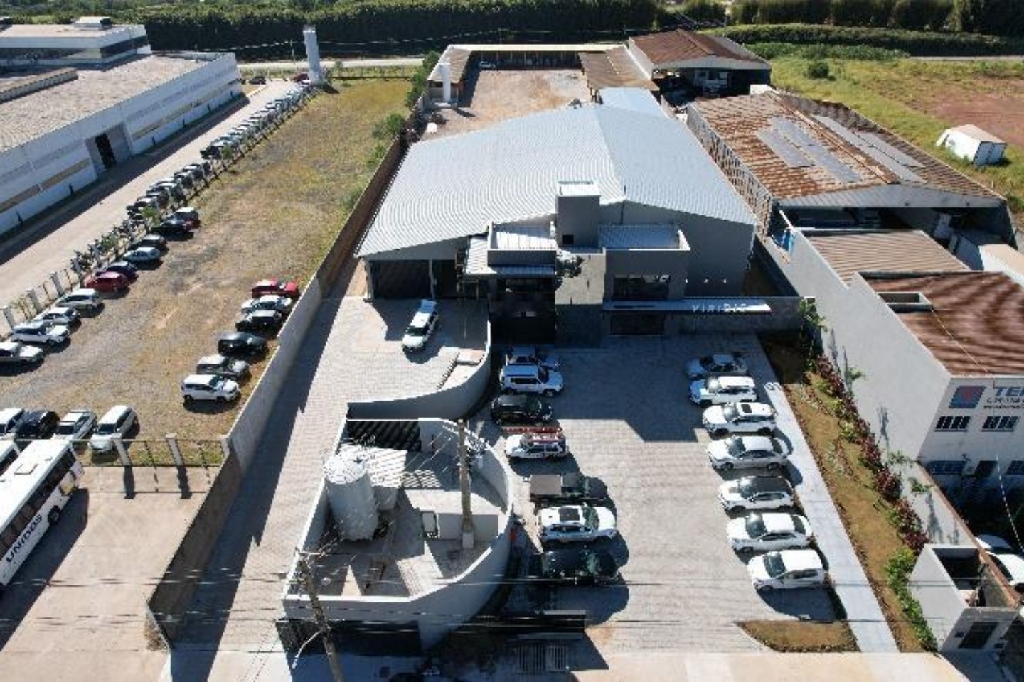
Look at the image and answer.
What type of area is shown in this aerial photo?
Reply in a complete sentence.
The picture captures an industrial area.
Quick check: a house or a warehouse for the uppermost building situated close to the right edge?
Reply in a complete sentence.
The uppermost building situated close to the right edge is a warehouse.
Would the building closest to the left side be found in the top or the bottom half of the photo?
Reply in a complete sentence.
Seen from above, the building closest to the left side lies in the top half of the view.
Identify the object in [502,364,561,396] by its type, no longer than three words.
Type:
car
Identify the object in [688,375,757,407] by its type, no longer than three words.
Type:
car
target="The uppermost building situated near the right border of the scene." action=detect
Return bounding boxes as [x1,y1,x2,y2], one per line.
[686,81,1007,246]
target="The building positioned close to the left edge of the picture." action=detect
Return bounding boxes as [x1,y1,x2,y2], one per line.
[0,14,241,237]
